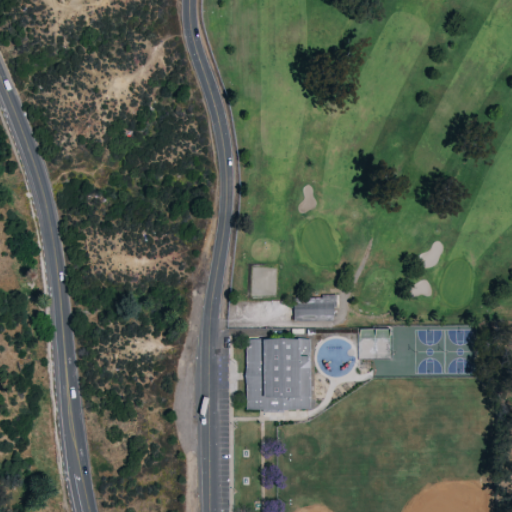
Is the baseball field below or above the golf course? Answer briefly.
below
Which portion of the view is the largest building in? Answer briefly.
bottom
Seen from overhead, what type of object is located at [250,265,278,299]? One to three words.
sports court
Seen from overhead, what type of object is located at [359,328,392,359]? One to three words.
sports court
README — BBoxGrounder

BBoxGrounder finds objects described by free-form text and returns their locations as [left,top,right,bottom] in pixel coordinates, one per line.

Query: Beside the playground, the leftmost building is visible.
[247,338,311,410]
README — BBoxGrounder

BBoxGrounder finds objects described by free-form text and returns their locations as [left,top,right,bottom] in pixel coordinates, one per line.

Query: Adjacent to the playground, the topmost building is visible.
[294,295,340,321]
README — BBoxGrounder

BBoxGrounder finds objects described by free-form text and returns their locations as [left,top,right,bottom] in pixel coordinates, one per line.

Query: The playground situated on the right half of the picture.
[314,336,358,380]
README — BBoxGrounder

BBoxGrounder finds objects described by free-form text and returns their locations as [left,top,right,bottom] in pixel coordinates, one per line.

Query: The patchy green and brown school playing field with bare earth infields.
[278,378,490,512]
